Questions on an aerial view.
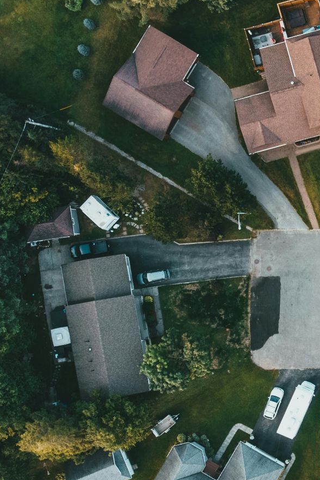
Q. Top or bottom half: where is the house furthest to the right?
top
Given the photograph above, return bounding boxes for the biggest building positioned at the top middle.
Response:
[103,25,201,145]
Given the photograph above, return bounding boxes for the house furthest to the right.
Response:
[235,30,320,155]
